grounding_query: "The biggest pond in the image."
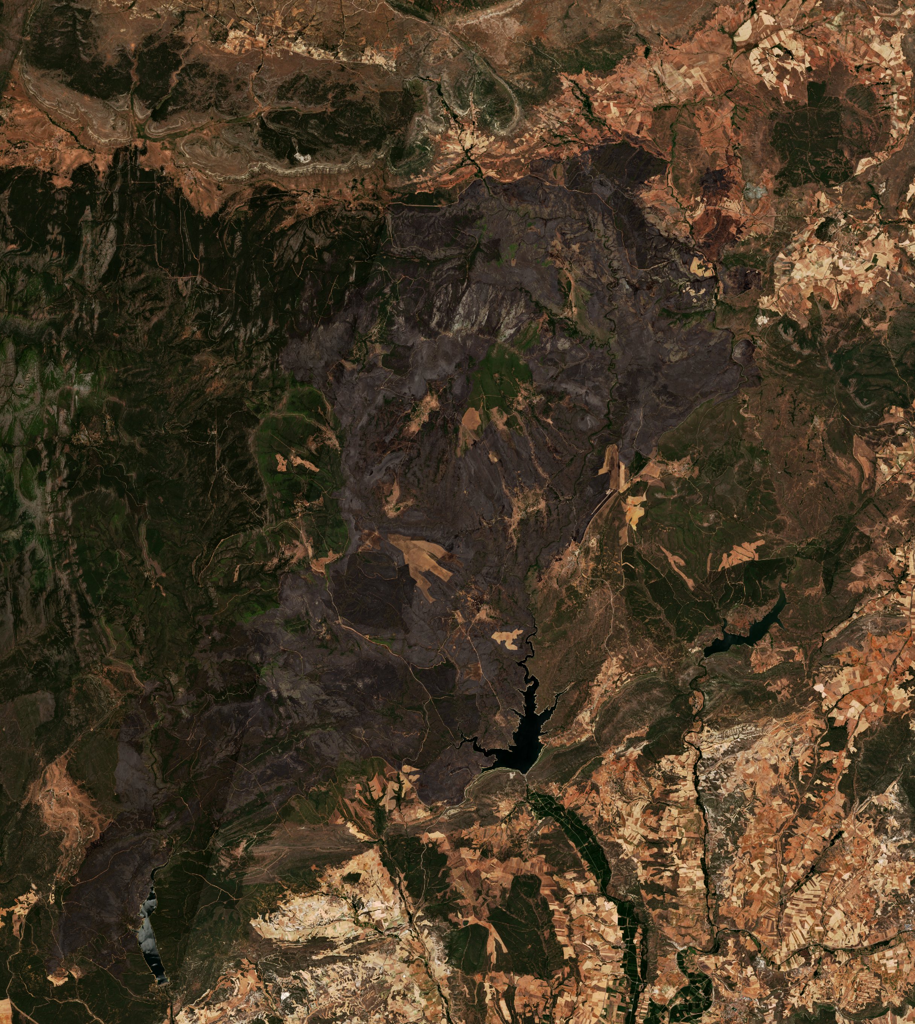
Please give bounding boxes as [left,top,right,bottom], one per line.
[447,608,571,774]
